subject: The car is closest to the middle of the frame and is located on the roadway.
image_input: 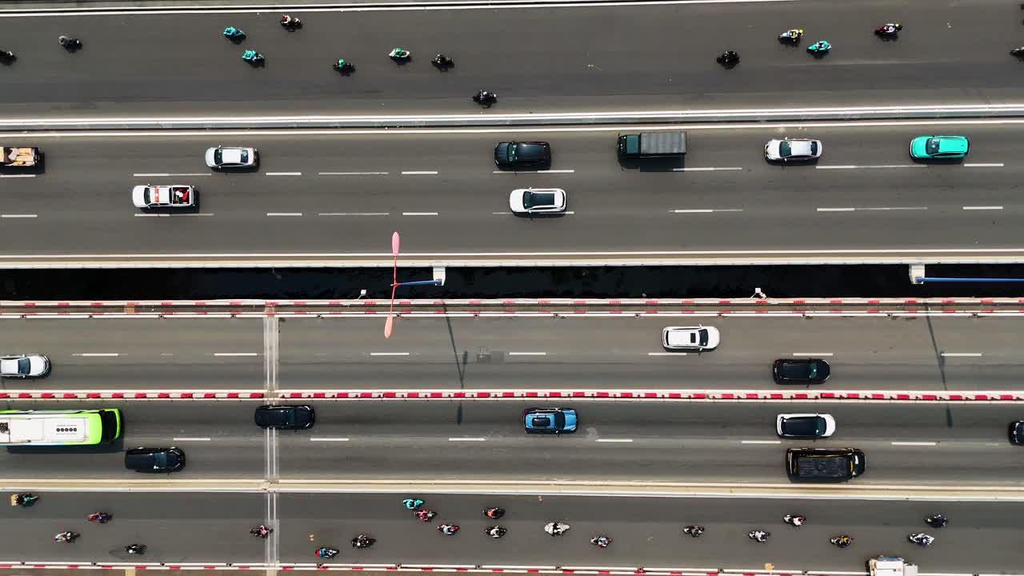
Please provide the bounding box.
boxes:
[510,186,566,214]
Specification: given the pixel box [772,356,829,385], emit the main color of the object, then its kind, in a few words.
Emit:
black car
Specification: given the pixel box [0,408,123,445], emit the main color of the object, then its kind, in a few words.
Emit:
white bus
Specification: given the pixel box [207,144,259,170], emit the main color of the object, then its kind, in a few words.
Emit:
white car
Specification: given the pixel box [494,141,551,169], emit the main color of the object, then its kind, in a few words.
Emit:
black car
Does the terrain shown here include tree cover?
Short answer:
No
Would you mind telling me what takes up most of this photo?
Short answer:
paved ground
